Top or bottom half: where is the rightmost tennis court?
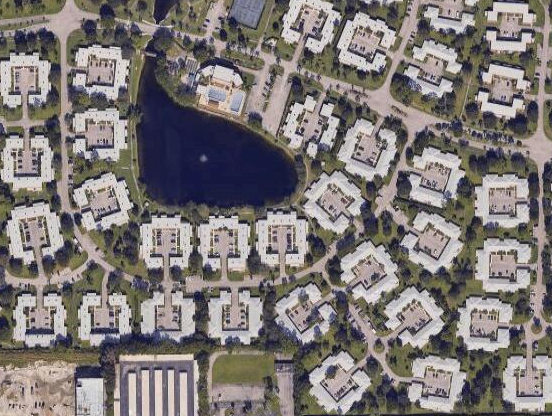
top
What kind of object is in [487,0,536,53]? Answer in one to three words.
building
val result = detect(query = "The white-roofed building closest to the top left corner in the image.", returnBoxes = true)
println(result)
[0,54,51,107]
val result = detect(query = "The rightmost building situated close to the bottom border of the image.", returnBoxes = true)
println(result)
[503,357,552,411]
